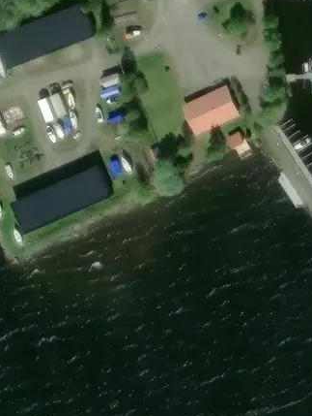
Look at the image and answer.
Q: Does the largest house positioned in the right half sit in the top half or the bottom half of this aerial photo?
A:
top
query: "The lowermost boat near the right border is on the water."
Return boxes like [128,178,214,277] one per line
[295,136,312,149]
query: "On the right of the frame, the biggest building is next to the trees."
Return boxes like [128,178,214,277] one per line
[183,85,241,136]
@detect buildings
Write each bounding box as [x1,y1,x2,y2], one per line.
[227,131,247,150]
[10,164,119,234]
[183,85,241,136]
[0,3,99,68]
